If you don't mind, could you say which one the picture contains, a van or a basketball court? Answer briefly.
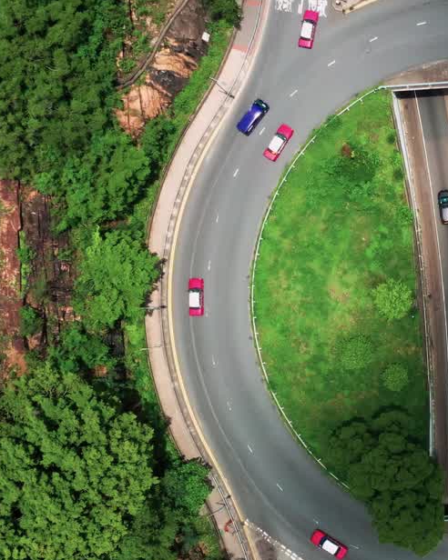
van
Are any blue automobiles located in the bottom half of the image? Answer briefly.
No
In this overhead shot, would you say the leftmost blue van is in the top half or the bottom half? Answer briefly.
top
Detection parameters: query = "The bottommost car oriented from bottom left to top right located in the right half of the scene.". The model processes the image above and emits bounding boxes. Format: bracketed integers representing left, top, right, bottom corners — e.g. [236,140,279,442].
[264,123,294,163]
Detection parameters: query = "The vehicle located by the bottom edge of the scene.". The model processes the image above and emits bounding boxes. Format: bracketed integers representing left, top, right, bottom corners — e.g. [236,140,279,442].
[310,529,349,559]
